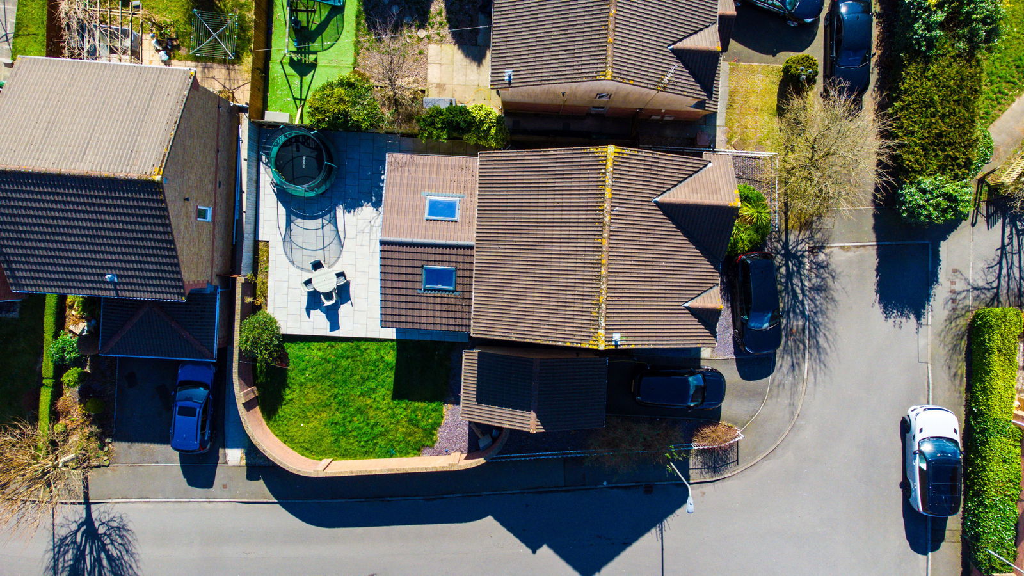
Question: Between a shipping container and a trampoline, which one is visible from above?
trampoline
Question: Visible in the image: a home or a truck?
home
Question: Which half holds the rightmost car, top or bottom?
bottom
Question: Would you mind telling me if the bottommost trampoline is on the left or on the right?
left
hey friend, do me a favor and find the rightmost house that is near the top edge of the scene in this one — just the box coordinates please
[487,0,737,137]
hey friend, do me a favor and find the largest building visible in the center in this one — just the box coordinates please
[469,145,740,350]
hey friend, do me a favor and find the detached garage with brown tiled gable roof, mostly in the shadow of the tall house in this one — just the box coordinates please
[458,347,610,432]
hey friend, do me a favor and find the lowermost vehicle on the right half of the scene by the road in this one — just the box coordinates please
[899,403,965,513]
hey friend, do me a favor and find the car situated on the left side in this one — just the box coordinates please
[170,362,224,453]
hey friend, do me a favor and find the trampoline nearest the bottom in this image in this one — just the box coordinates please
[255,119,340,199]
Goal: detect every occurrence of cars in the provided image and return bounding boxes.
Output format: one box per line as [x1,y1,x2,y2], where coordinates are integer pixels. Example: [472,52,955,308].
[170,362,224,453]
[631,365,726,417]
[899,403,965,513]
[735,0,821,25]
[823,0,878,97]
[732,253,786,353]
